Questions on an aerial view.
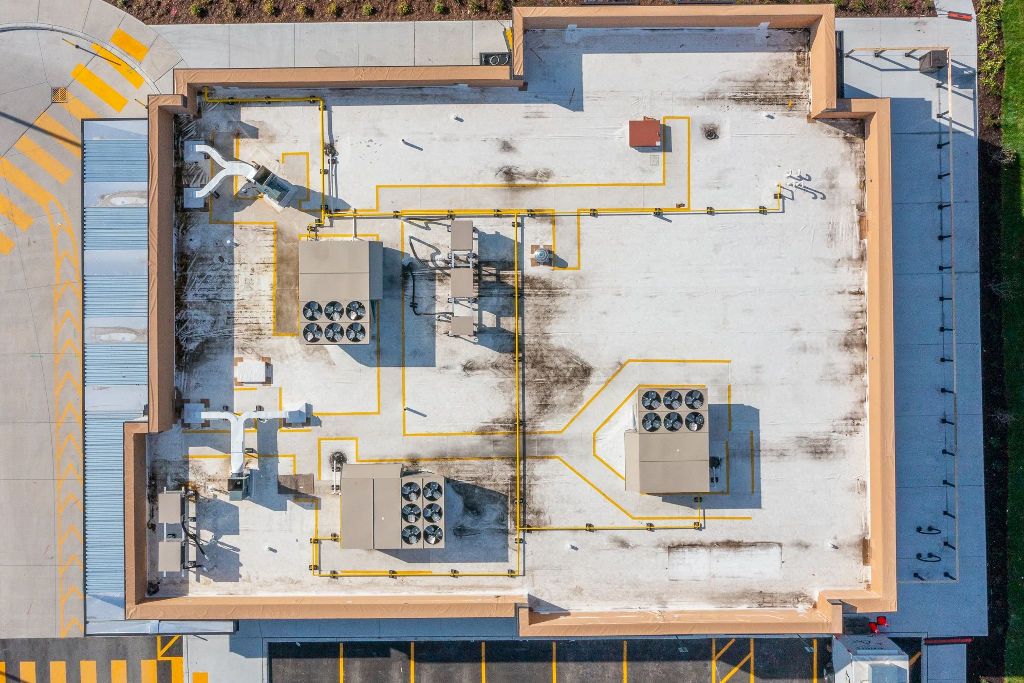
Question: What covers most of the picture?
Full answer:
The largest share of the image is taken up by buildings.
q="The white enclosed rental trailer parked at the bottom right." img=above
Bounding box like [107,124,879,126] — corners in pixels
[821,634,909,683]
